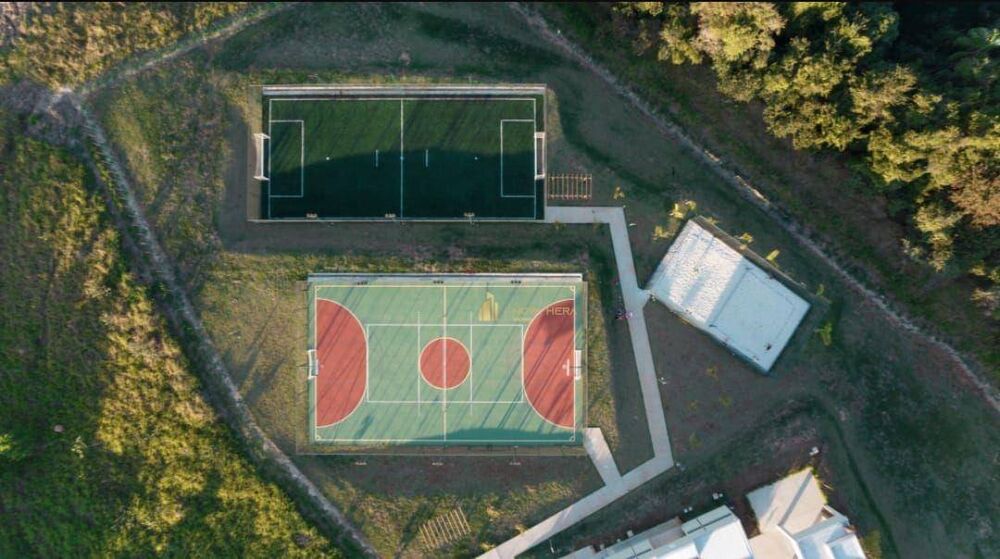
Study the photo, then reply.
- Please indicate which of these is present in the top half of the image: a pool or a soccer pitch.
soccer pitch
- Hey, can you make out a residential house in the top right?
No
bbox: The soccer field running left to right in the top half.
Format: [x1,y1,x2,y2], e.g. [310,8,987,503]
[250,95,546,222]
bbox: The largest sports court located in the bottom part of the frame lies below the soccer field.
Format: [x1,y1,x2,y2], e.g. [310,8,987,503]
[307,282,588,452]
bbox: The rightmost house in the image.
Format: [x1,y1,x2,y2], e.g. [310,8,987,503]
[771,504,863,559]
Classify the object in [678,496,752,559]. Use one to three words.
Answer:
house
